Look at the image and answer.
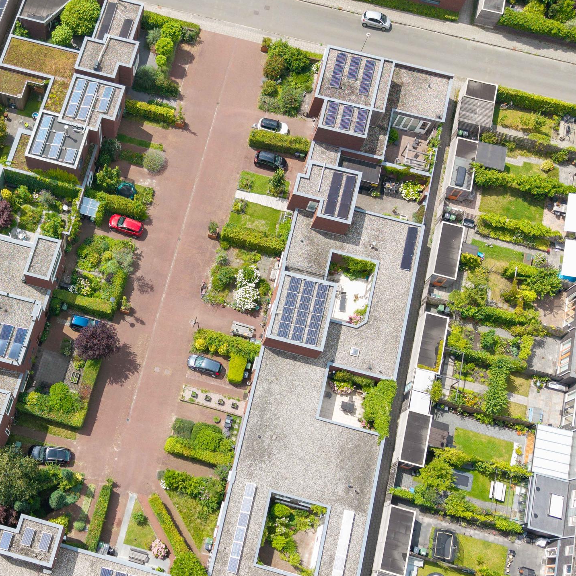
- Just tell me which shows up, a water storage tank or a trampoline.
trampoline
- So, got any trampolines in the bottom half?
Yes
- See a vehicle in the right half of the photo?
Yes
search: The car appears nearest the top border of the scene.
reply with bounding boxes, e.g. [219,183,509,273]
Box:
[362,9,391,31]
